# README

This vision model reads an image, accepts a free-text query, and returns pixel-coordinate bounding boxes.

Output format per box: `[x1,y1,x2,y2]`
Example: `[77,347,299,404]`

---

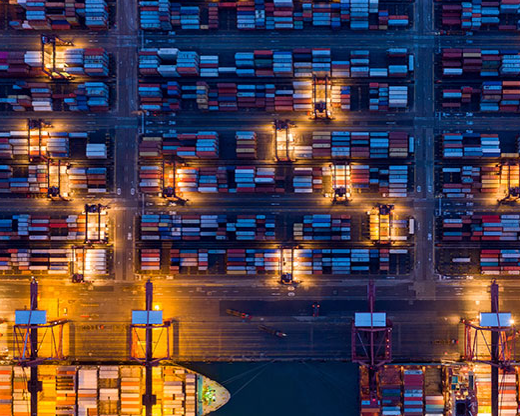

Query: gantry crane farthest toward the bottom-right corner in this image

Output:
[462,280,516,416]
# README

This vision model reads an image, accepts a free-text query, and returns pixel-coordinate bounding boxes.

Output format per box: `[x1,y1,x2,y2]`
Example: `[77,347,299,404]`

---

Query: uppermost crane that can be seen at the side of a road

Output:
[40,35,67,79]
